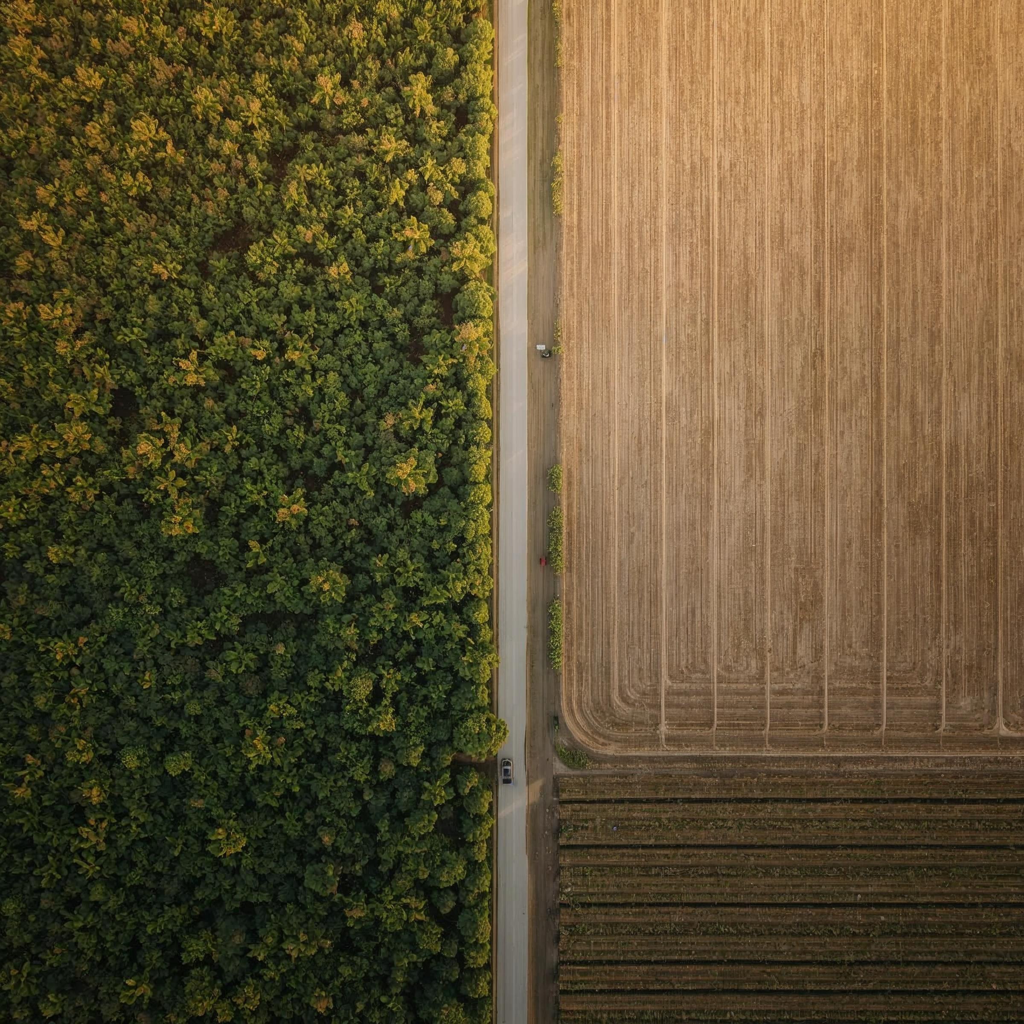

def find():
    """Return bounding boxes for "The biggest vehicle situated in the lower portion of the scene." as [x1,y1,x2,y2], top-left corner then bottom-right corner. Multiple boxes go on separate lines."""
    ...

[502,758,514,786]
